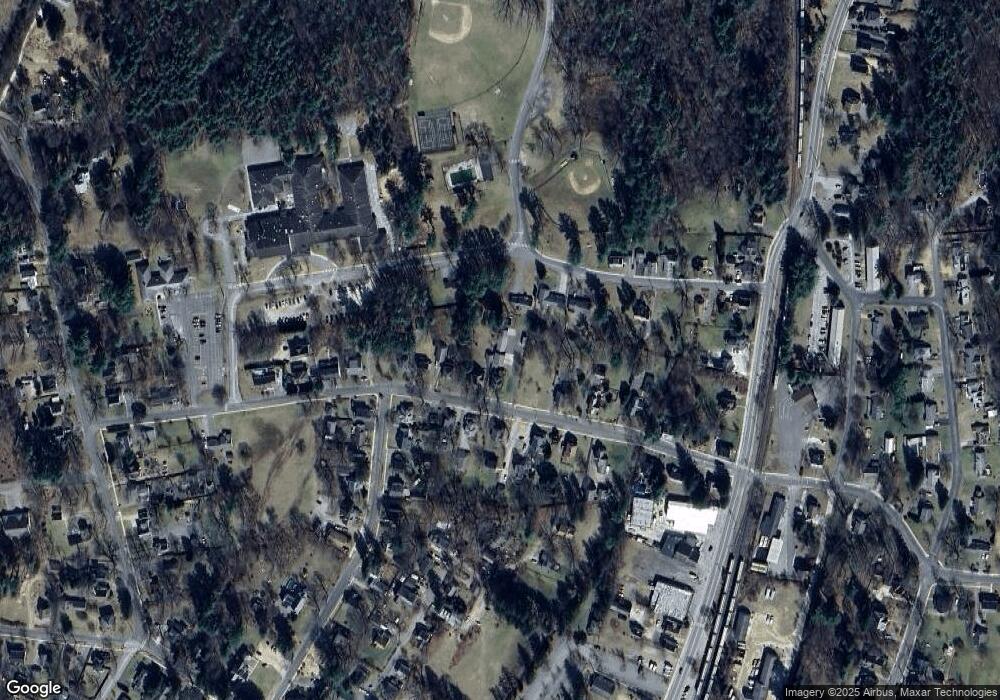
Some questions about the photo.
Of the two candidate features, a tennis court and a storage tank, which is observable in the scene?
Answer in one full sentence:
Looking from above, you can make out a tennis court.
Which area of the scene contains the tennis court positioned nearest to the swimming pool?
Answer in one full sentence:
The tennis court positioned nearest to the swimming pool appears toward the top of the photo.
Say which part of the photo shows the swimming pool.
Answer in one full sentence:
The swimming pool sits in the top section of the image.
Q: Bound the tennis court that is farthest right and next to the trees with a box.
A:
[411,107,455,152]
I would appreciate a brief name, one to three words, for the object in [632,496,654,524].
building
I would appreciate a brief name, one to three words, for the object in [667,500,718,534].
building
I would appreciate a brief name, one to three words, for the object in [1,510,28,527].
house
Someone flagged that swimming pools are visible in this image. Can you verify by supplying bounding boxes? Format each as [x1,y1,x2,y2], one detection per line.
[444,157,483,189]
